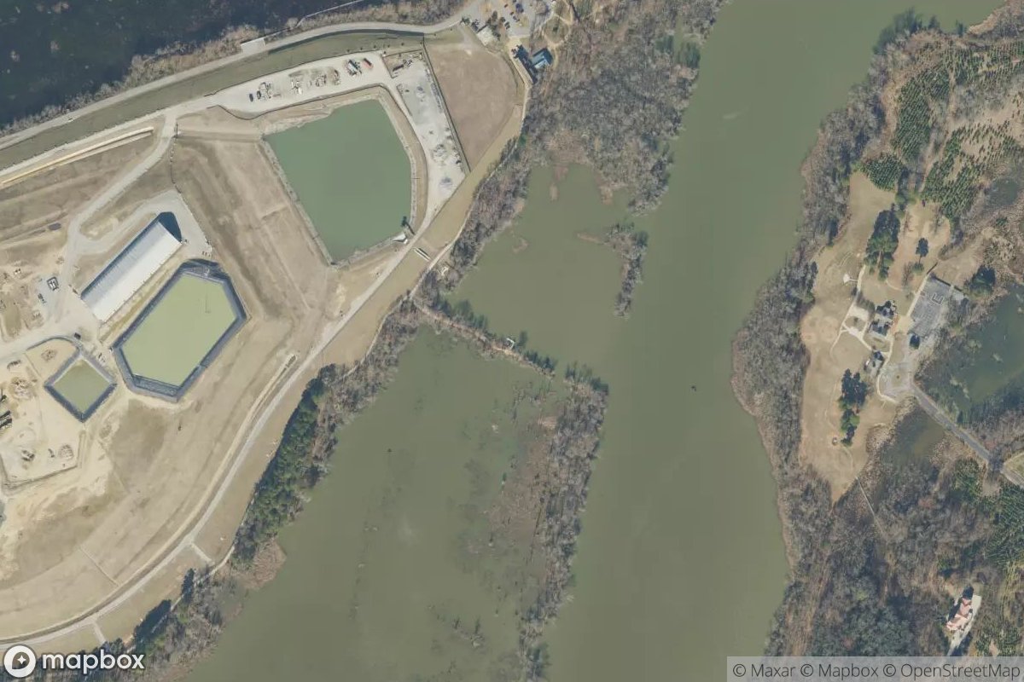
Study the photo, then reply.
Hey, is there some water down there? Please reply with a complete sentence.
Yes, the picture does contain water.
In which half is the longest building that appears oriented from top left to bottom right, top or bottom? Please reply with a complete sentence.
Seen from above, the longest building that appears oriented from top left to bottom right lies in the top half of the view.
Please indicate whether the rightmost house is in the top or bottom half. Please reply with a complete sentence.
You can find the rightmost house in the bottom half.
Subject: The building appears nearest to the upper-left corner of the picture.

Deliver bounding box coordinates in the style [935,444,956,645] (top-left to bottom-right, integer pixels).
[80,221,181,321]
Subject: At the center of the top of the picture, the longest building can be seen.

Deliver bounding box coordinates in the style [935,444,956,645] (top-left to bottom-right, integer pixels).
[510,44,540,83]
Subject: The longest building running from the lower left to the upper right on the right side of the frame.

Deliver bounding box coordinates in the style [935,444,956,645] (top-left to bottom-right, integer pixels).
[951,595,976,627]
